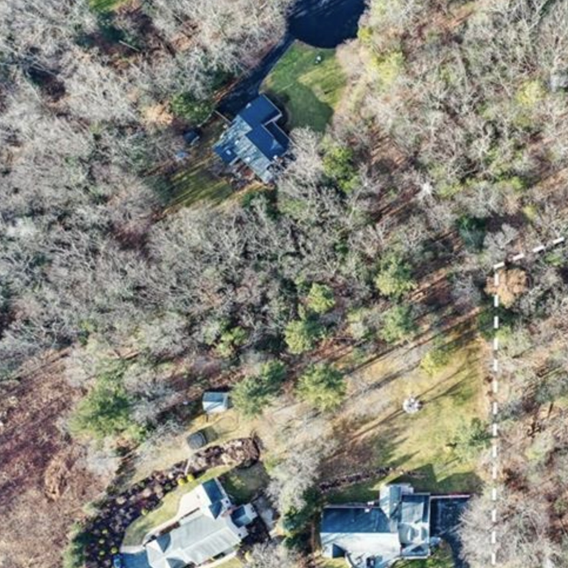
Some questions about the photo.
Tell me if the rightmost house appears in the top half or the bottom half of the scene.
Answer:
bottom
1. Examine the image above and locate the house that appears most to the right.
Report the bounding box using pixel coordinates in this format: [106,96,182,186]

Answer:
[320,478,434,562]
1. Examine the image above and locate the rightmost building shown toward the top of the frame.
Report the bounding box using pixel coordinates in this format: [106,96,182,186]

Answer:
[213,96,296,181]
